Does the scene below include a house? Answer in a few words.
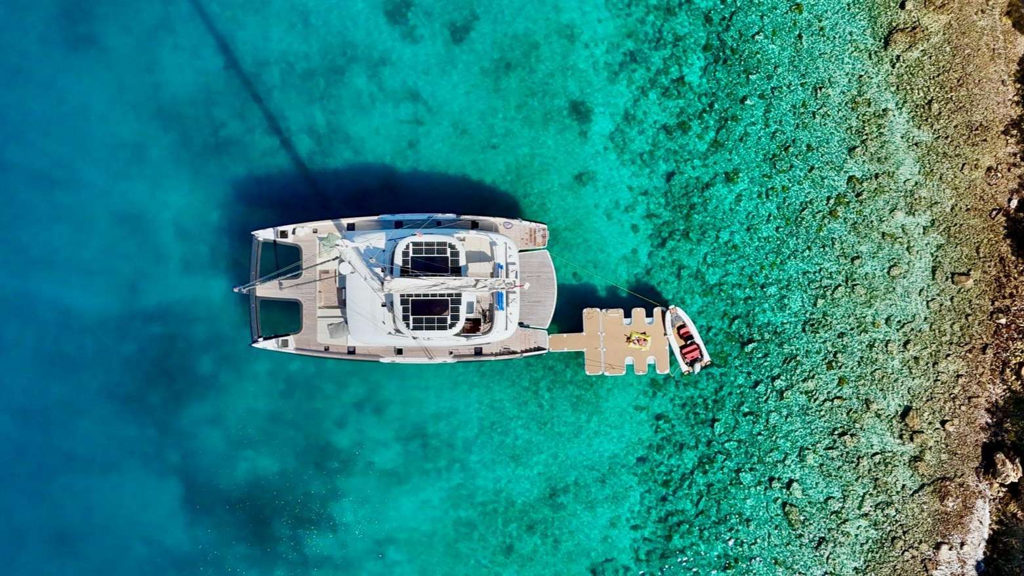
No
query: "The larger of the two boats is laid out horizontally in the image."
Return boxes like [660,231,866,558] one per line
[232,214,556,363]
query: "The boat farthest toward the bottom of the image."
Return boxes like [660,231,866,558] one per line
[665,305,712,374]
